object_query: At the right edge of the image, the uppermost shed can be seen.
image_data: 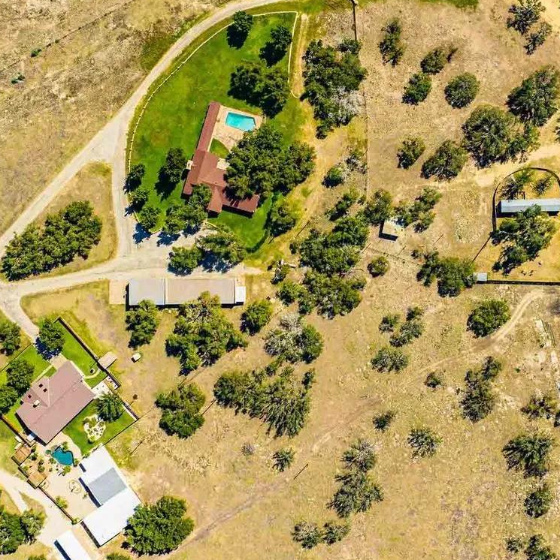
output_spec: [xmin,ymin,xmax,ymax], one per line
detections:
[501,200,560,213]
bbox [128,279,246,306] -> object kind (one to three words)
house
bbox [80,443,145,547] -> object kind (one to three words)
building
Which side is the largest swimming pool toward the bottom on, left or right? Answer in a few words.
left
